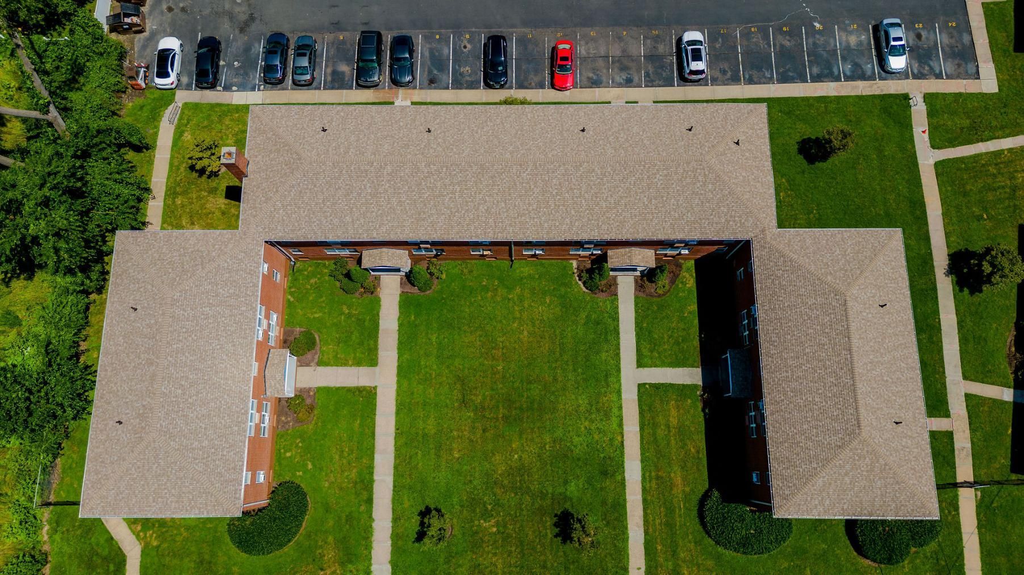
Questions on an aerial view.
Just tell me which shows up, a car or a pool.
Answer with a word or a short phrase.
car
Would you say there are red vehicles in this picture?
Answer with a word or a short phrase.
Yes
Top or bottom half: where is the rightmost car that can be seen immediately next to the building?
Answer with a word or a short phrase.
top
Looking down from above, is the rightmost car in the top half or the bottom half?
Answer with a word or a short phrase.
top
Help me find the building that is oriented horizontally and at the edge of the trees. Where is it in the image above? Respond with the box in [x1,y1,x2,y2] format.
[78,103,941,520]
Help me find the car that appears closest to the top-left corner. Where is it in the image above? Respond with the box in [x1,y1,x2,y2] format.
[154,39,184,90]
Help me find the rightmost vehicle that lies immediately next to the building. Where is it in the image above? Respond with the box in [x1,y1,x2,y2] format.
[680,32,707,83]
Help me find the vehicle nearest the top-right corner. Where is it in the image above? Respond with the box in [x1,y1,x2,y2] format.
[877,20,910,73]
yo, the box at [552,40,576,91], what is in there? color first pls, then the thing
red car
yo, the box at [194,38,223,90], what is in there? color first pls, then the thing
black car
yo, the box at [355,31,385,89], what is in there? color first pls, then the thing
black car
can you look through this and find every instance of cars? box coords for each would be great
[552,40,576,91]
[263,34,290,85]
[154,39,184,90]
[877,20,910,73]
[483,35,509,89]
[388,35,414,88]
[355,31,385,89]
[680,32,707,83]
[194,38,223,90]
[291,37,318,87]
